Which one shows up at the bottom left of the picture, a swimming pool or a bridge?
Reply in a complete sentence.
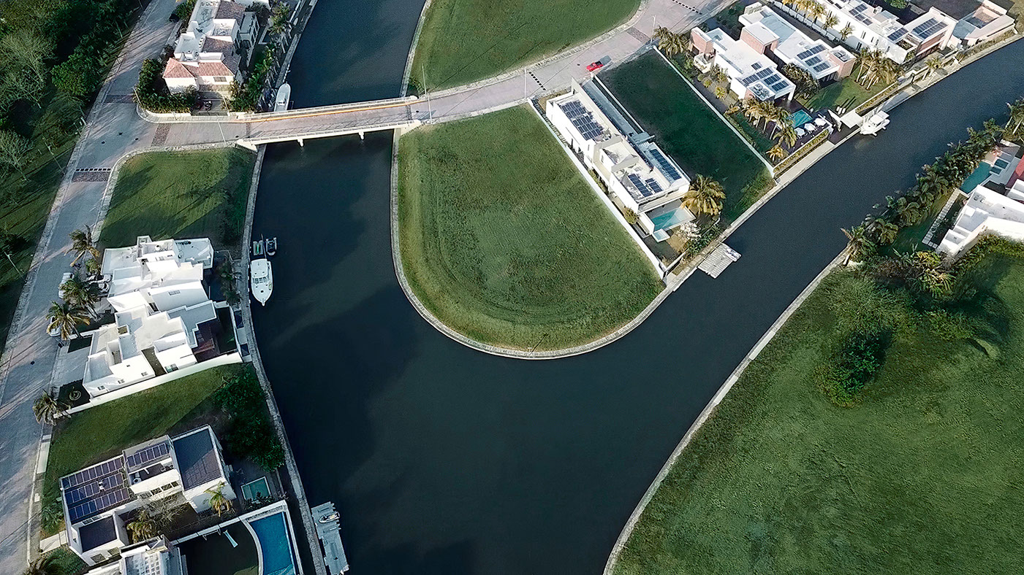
Looking at the bottom left of the picture, you will find a swimming pool.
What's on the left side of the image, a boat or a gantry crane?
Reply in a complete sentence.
The one visible on the left side of the image is a boat.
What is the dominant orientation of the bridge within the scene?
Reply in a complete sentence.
Seen from above, the bridge lies horizontally.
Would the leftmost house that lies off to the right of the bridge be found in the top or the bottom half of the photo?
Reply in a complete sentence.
The leftmost house that lies off to the right of the bridge sits in the top half of the picture.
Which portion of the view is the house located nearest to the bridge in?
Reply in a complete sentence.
The house located nearest to the bridge is in the top left part of the image.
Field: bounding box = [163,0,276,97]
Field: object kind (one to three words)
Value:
house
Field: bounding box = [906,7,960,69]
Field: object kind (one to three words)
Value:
house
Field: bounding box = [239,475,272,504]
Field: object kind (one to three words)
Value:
swimming pool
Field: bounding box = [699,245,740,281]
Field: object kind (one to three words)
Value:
pier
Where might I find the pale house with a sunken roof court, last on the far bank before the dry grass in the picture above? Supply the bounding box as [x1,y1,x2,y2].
[948,0,1015,53]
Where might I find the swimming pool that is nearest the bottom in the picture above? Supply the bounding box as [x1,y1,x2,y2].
[243,506,298,575]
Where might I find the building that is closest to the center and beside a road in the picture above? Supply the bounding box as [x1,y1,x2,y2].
[546,78,690,242]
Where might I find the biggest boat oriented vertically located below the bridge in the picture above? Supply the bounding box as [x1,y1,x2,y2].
[248,251,272,304]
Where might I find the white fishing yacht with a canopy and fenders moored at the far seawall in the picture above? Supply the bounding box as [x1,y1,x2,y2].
[861,102,894,132]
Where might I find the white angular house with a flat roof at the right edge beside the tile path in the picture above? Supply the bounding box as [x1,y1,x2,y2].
[932,179,1024,267]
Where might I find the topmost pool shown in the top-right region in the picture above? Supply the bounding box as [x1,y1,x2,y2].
[791,108,813,128]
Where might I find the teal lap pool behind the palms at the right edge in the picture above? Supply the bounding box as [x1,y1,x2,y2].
[960,162,994,195]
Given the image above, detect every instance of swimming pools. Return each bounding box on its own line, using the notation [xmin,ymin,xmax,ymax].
[989,165,1004,176]
[653,225,673,243]
[994,157,1011,170]
[648,207,700,230]
[239,475,272,504]
[960,162,994,195]
[243,506,298,575]
[791,108,813,128]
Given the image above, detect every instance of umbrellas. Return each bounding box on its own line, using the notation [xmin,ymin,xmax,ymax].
[793,127,806,136]
[813,117,827,132]
[802,122,816,132]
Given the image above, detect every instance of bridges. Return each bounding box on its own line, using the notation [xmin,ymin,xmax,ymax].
[235,96,422,149]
